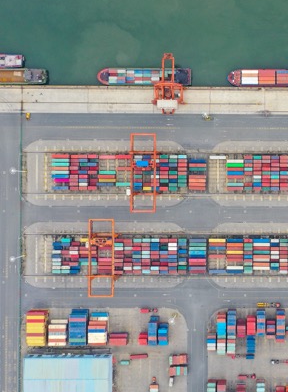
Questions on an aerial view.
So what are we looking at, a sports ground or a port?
port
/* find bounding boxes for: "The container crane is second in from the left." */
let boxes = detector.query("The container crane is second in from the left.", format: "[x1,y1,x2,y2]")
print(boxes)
[126,134,164,213]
